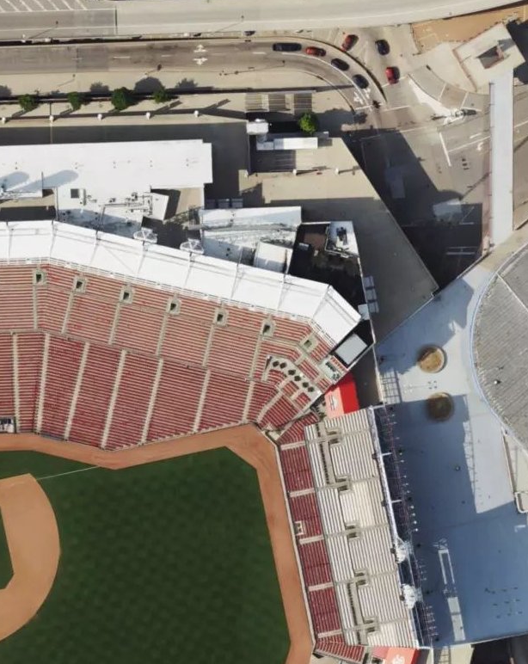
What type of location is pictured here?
sports ground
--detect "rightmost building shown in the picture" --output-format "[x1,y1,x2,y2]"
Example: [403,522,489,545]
[453,22,528,92]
